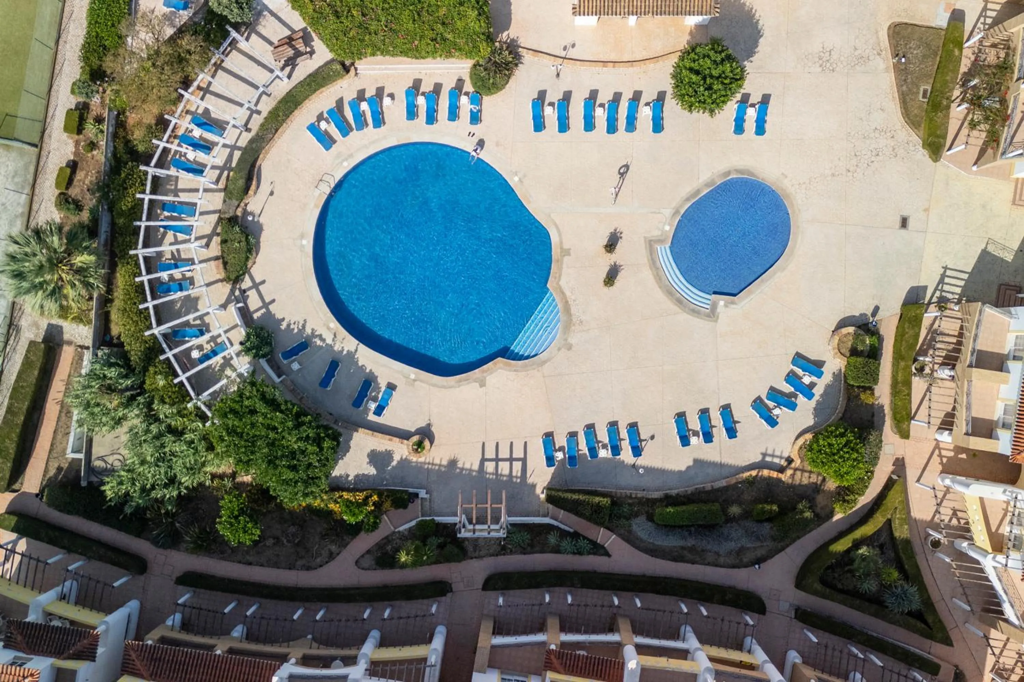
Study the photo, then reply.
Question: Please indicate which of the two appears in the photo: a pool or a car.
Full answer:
Visible in the photo is a pool.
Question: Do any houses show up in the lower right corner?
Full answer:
Yes, a house shows up in the lower right corner.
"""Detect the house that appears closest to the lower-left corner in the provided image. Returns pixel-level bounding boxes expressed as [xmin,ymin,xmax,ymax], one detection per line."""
[0,573,154,682]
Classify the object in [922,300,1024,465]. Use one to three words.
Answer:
house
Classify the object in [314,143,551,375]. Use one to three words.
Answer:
swimming pool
